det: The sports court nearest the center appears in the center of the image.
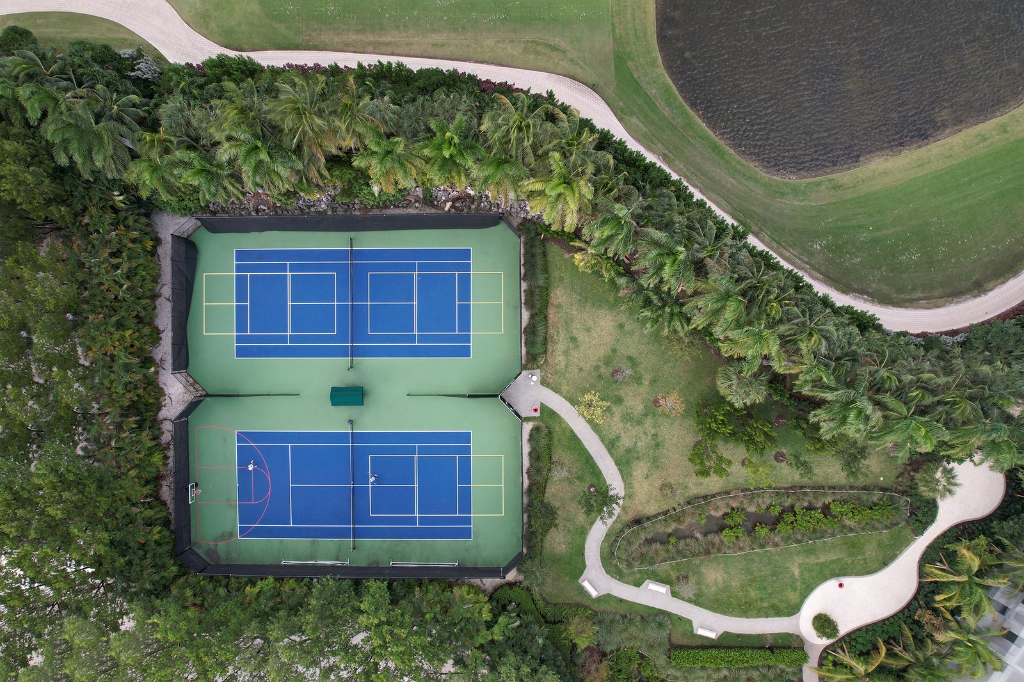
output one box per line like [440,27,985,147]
[368,272,503,334]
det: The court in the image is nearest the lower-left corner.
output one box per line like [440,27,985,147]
[196,426,272,545]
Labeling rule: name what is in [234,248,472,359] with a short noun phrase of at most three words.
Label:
tennis court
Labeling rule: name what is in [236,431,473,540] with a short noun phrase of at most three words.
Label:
tennis court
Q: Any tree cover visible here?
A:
Yes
